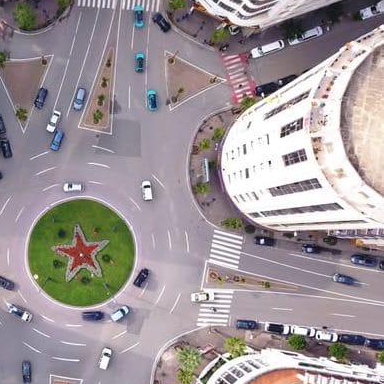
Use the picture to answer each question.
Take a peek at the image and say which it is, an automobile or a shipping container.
automobile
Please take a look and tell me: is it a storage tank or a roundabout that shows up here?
roundabout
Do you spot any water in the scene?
No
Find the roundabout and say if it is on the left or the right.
left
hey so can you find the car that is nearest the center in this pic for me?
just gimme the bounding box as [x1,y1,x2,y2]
[140,180,153,202]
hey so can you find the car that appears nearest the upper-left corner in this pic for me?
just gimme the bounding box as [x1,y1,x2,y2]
[33,87,49,109]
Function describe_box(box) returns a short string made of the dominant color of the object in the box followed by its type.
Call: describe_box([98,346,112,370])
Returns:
white car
